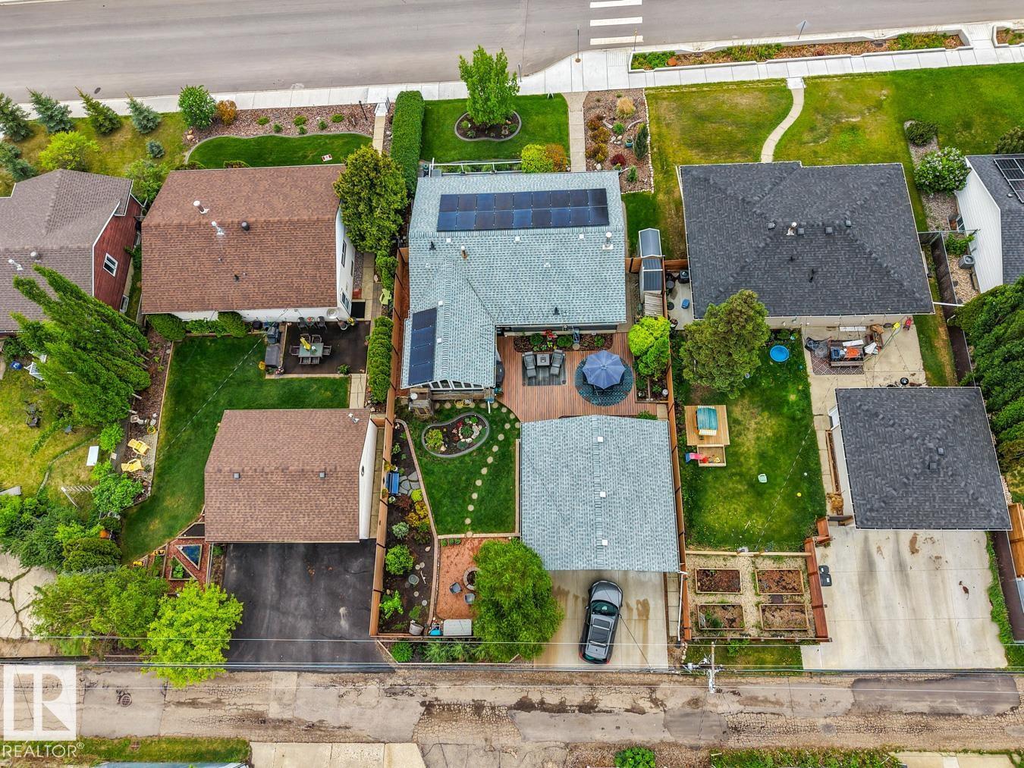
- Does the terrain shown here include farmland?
No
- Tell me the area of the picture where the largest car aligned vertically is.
bottom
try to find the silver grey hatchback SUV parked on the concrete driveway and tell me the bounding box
[575,577,622,672]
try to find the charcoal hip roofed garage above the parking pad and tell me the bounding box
[822,386,1015,532]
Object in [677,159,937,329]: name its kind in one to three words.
house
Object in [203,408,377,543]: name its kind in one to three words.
building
